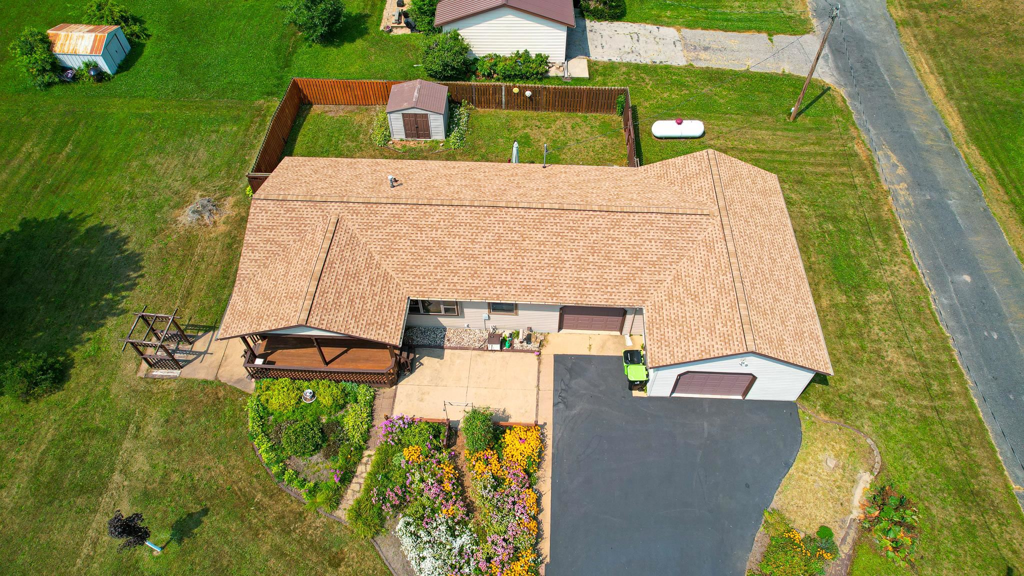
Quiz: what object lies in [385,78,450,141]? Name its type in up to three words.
shed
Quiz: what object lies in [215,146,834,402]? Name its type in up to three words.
house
